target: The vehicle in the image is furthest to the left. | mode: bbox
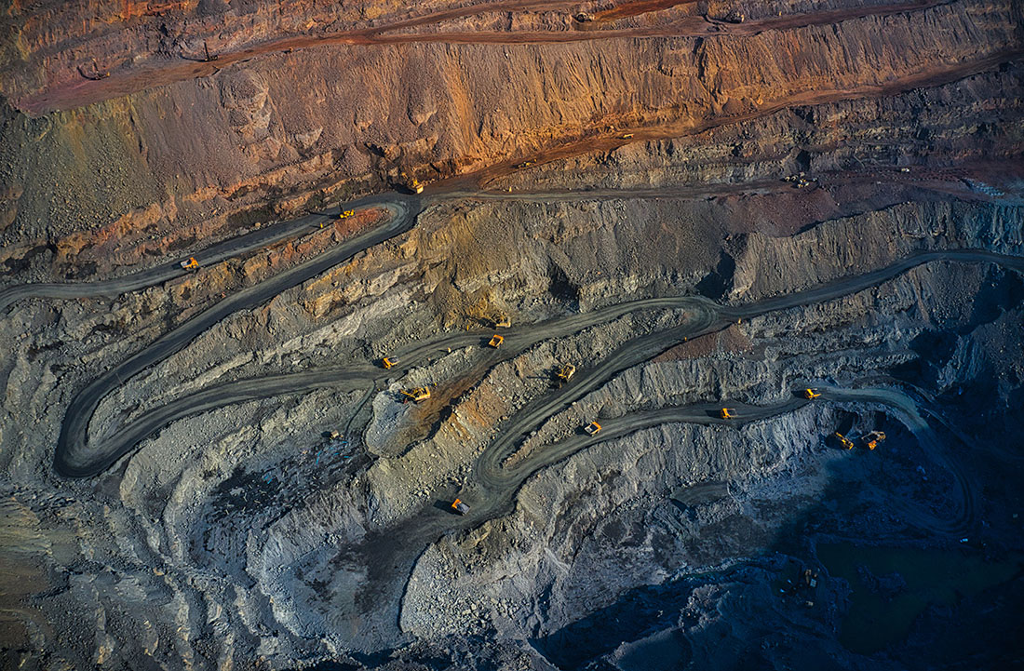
[179,254,197,270]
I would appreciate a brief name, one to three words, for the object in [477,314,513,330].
work vehicle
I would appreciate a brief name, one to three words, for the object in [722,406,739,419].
vehicle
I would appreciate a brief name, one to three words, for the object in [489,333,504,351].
vehicle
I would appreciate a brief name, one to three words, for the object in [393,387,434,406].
work vehicle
